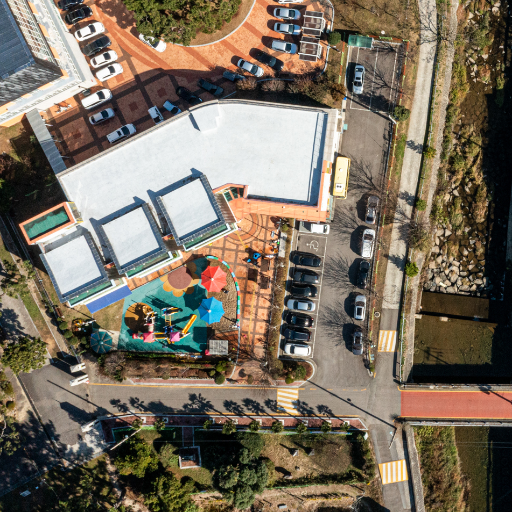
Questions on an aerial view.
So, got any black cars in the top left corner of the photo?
Yes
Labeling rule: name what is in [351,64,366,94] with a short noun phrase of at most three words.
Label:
car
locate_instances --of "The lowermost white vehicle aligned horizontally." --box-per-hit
[284,343,313,356]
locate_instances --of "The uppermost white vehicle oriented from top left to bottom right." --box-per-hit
[137,30,167,54]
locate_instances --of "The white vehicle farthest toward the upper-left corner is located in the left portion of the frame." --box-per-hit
[75,23,105,41]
